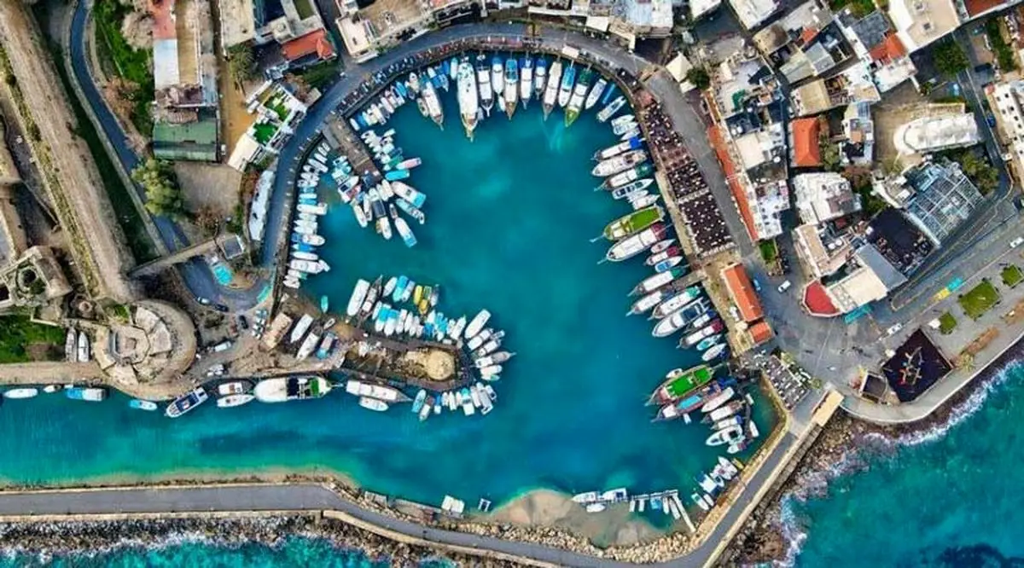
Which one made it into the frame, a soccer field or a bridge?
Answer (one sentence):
It is a bridge that can be seen here.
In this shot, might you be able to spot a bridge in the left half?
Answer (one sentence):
Yes, looking in the left half, one can make out a bridge.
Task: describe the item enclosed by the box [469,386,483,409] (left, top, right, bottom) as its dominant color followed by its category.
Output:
white boat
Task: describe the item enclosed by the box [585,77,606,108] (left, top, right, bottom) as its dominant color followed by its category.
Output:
white boat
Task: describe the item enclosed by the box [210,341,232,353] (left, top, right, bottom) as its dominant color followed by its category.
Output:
white vehicle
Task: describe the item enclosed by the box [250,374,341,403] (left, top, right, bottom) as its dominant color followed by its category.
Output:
white ship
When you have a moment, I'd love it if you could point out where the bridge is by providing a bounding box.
[131,234,228,279]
